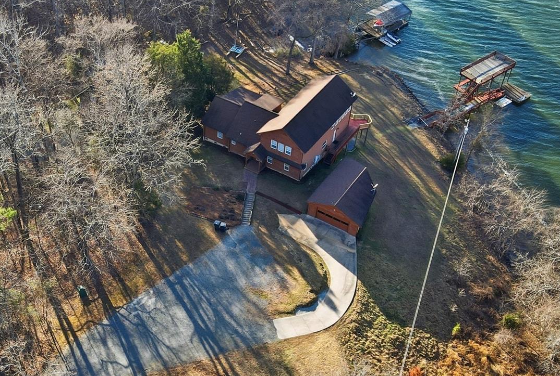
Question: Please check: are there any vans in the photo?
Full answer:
No, the picture doesn't show any van.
